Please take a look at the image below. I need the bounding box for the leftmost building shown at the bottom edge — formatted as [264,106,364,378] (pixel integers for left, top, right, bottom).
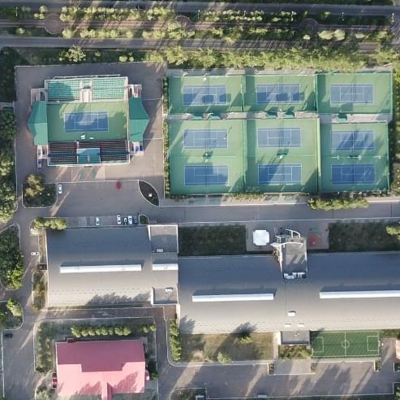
[52,337,150,400]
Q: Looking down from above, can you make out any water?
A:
No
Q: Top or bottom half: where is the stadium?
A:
top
